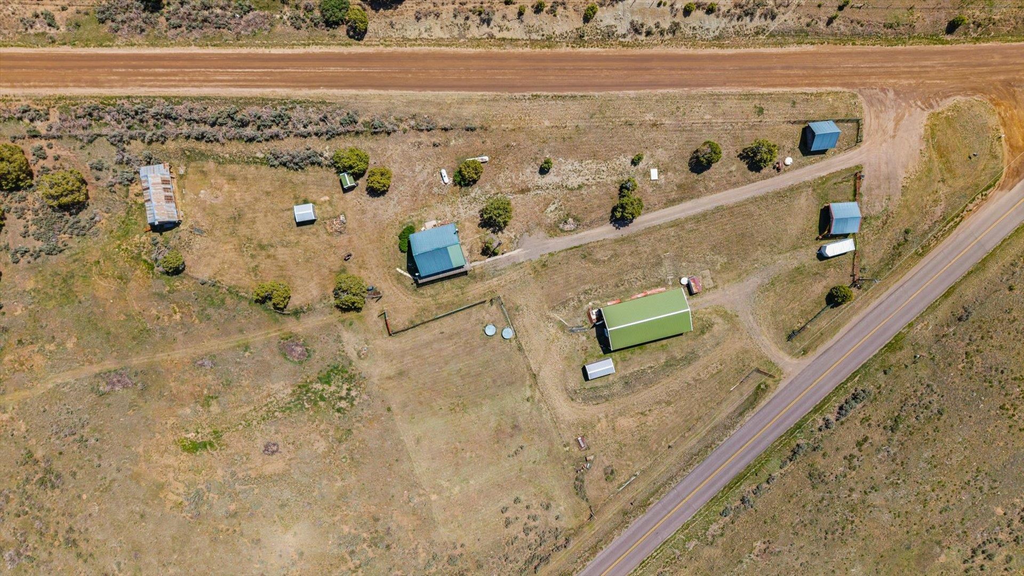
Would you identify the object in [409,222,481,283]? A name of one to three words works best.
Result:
house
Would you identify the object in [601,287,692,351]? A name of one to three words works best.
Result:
barn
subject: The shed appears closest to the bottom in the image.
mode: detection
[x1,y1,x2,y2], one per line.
[586,359,615,379]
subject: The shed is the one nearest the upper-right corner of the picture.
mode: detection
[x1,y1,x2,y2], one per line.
[803,119,841,153]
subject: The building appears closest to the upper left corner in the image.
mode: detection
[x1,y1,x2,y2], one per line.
[138,165,188,226]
